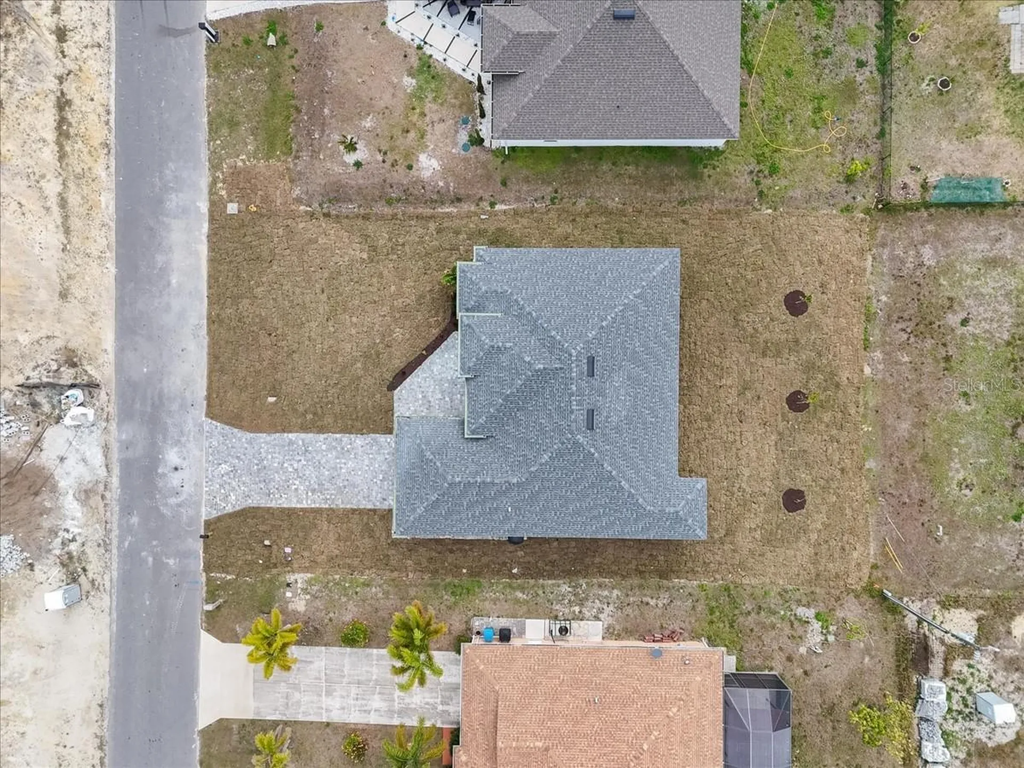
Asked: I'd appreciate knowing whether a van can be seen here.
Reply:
No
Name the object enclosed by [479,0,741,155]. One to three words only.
house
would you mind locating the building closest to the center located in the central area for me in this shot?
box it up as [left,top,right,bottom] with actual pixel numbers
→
[392,245,708,540]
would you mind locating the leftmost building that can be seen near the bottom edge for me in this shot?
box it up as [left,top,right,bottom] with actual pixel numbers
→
[451,634,727,768]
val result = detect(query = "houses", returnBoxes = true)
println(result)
[451,634,727,768]
[479,0,741,155]
[392,245,708,540]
